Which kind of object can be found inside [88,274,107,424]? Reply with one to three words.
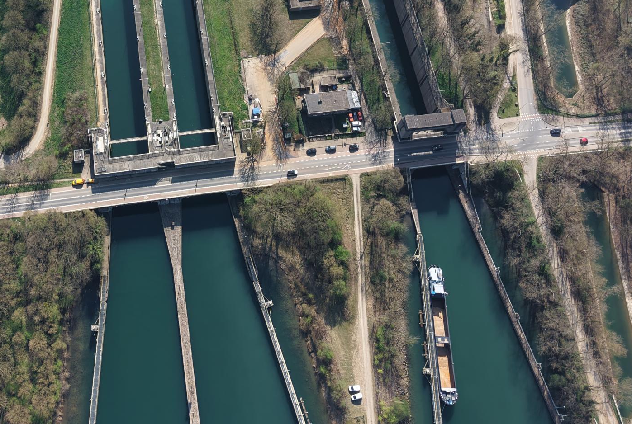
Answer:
pier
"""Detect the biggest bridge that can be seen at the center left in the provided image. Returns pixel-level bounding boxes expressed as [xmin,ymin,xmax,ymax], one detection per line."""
[75,160,253,211]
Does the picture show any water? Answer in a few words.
Yes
